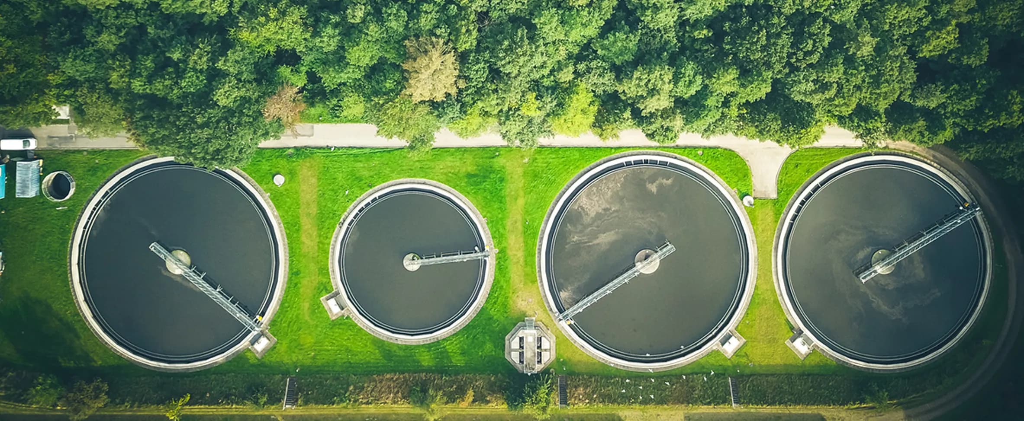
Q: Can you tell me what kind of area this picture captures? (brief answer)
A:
industrial area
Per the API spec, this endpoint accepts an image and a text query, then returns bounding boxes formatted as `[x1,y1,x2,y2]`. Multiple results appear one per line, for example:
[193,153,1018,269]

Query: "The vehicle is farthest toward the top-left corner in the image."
[1,137,40,151]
